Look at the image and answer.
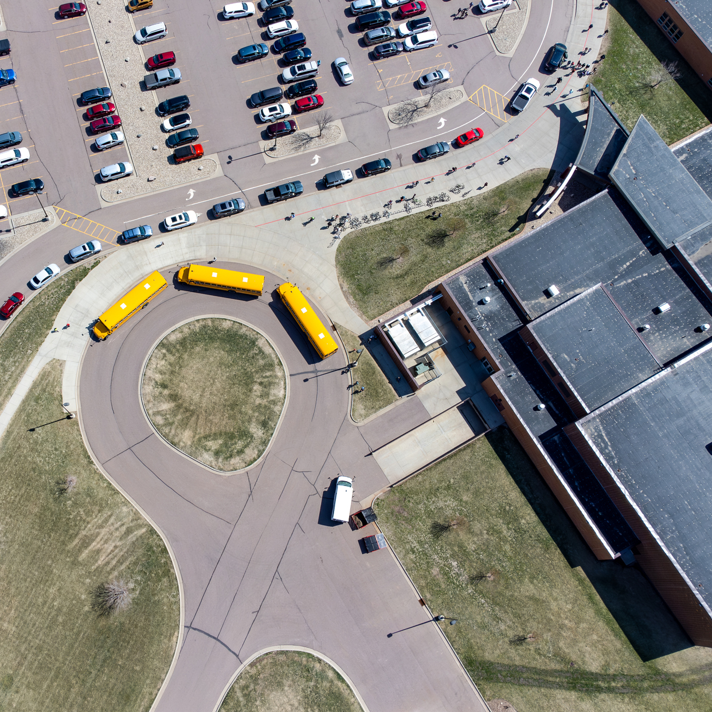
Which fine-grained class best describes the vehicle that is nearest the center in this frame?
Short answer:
bus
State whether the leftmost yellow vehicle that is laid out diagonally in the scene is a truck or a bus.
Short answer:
bus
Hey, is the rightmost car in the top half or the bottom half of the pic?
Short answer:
top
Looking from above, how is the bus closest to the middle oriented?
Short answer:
on a diagonal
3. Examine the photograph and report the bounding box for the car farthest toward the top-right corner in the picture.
[543,41,570,76]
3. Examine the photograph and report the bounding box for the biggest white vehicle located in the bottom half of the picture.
[330,476,357,525]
